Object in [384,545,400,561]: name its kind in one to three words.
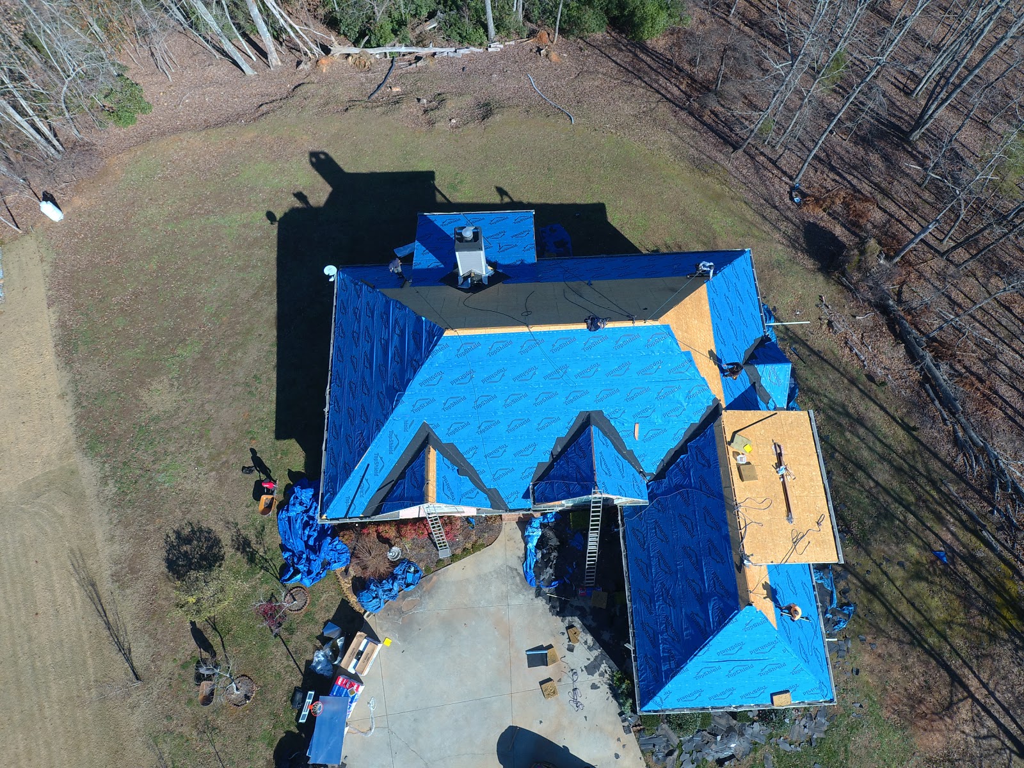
fountain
